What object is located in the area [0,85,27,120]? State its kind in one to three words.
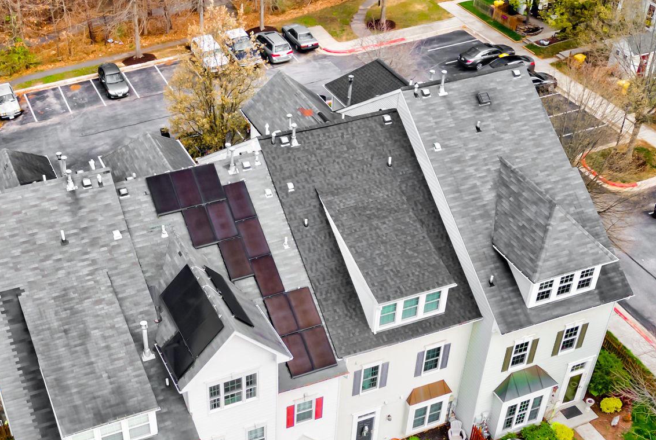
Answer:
car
